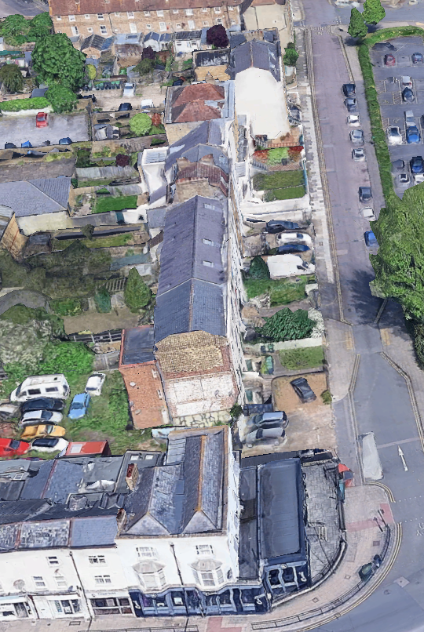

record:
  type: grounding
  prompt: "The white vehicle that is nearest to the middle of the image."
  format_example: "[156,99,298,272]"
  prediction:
[265,255,307,275]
